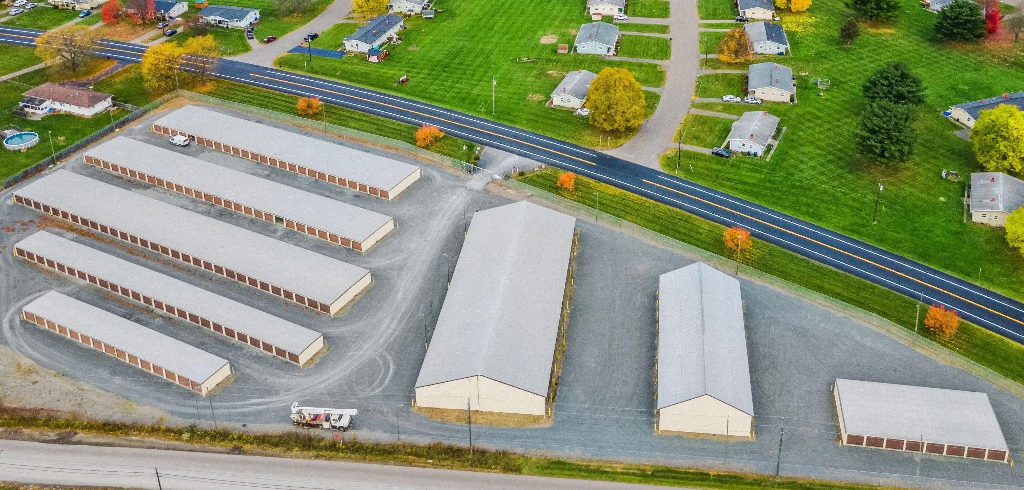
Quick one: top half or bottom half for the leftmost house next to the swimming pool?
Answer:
top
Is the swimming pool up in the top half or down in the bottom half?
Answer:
top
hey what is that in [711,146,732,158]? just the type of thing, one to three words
vehicle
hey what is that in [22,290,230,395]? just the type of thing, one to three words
building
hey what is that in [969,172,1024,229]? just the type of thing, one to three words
house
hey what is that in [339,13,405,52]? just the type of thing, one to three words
house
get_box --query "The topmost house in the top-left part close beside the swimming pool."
[12,82,115,116]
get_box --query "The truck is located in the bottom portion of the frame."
[291,400,355,431]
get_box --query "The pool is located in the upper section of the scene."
[1,131,41,151]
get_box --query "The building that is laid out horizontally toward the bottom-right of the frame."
[835,379,1009,462]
